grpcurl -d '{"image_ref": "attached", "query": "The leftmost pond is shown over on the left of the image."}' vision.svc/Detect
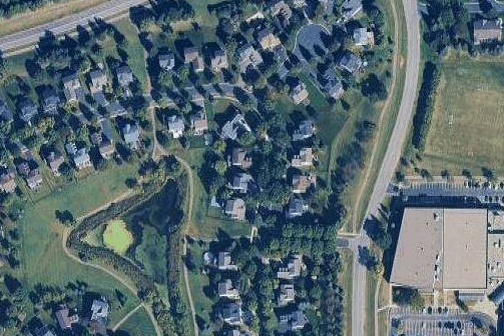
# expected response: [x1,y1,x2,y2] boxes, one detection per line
[101,179,183,321]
